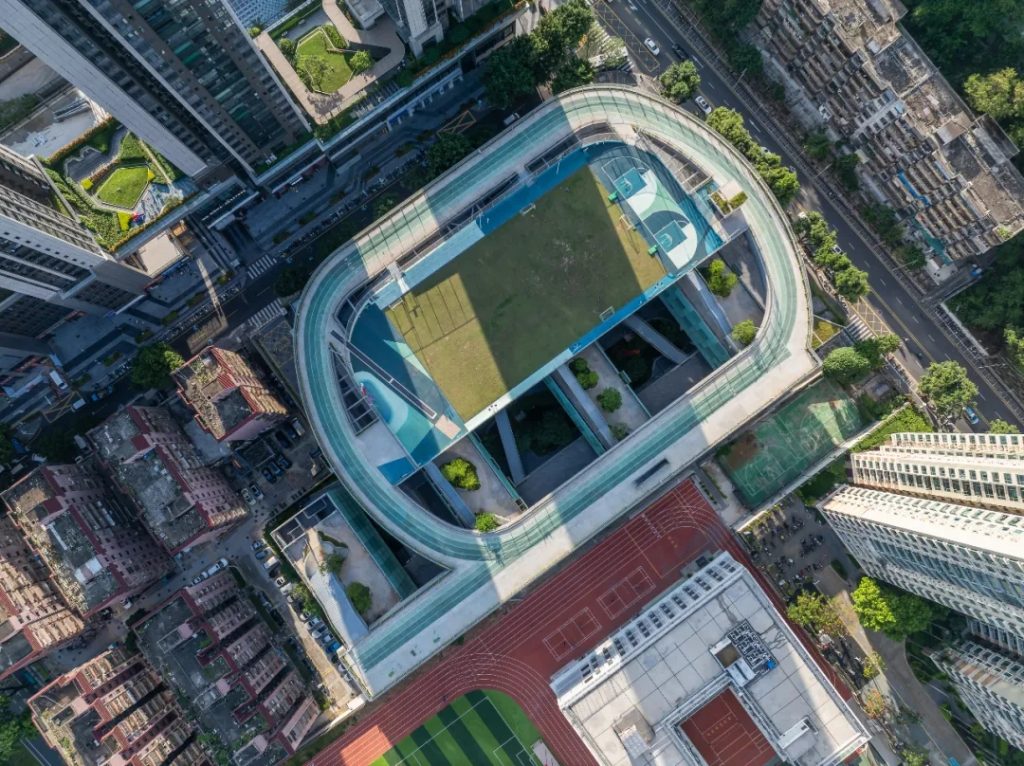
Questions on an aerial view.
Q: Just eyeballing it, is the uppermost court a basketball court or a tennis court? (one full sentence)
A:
The uppermost court can be classified as a basketball court.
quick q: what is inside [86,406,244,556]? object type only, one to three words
building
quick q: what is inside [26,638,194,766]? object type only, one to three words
building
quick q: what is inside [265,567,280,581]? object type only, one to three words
car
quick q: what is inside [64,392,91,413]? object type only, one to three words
truck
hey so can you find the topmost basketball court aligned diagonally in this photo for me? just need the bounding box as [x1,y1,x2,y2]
[583,142,724,269]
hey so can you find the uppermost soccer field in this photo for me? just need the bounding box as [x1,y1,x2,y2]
[374,149,677,430]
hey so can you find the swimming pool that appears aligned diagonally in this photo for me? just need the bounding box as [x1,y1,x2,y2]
[360,378,392,421]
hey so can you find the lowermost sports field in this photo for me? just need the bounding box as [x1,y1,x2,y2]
[375,689,549,766]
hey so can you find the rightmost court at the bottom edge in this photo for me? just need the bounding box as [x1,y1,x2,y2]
[673,684,773,766]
